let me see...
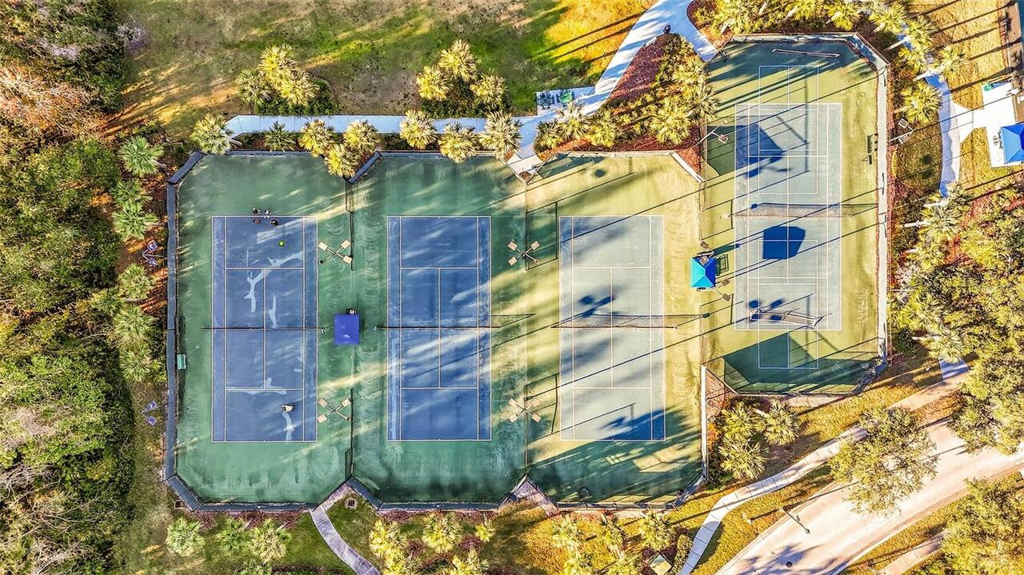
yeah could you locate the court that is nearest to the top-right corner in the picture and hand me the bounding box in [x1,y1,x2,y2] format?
[703,41,878,394]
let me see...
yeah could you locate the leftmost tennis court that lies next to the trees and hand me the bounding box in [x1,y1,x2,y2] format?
[178,156,350,504]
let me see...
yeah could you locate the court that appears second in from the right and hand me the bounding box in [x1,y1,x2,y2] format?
[526,154,703,505]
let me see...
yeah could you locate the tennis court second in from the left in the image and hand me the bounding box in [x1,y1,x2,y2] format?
[350,156,526,504]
